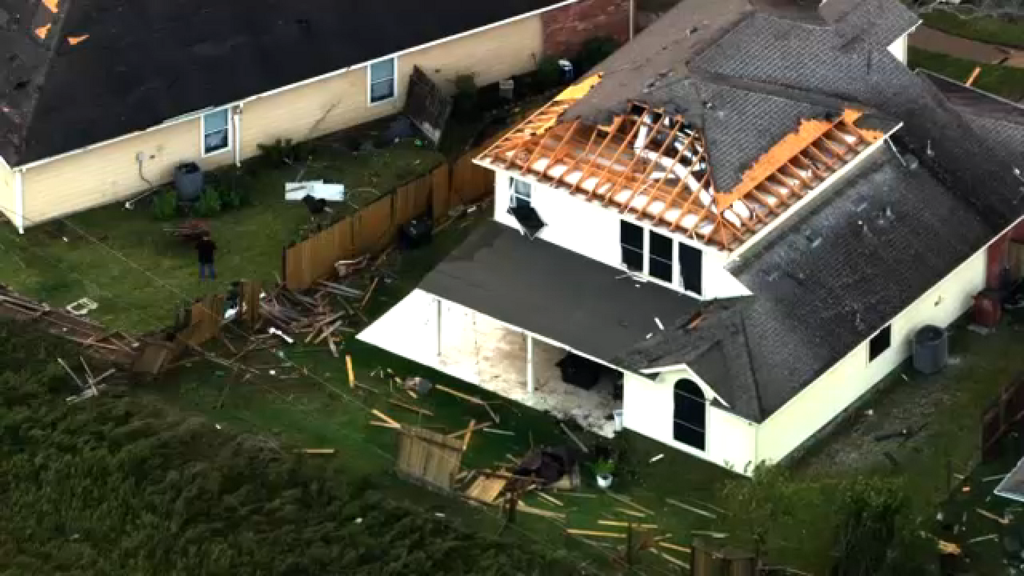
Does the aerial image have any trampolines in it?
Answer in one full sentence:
No, the scene contains no trampoline.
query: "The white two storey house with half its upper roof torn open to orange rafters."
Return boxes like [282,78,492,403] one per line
[416,0,1024,479]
